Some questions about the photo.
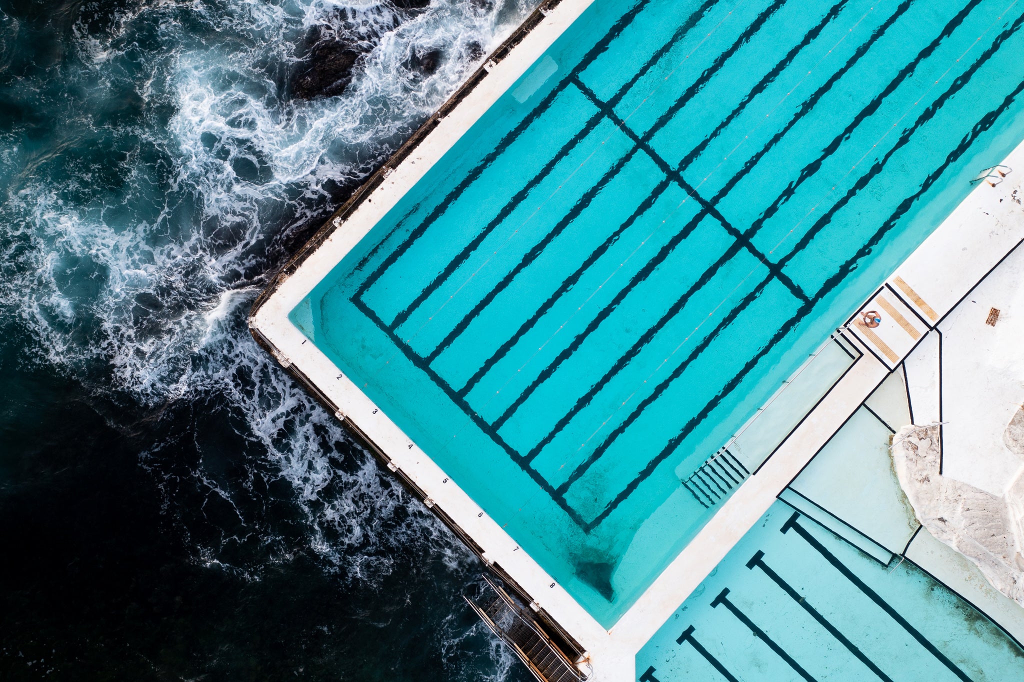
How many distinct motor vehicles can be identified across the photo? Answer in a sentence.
Not a single motor vehicle can be seen.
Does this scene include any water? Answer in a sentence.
Yes, the picture does contain water.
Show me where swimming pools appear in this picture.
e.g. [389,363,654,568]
[290,0,1024,630]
